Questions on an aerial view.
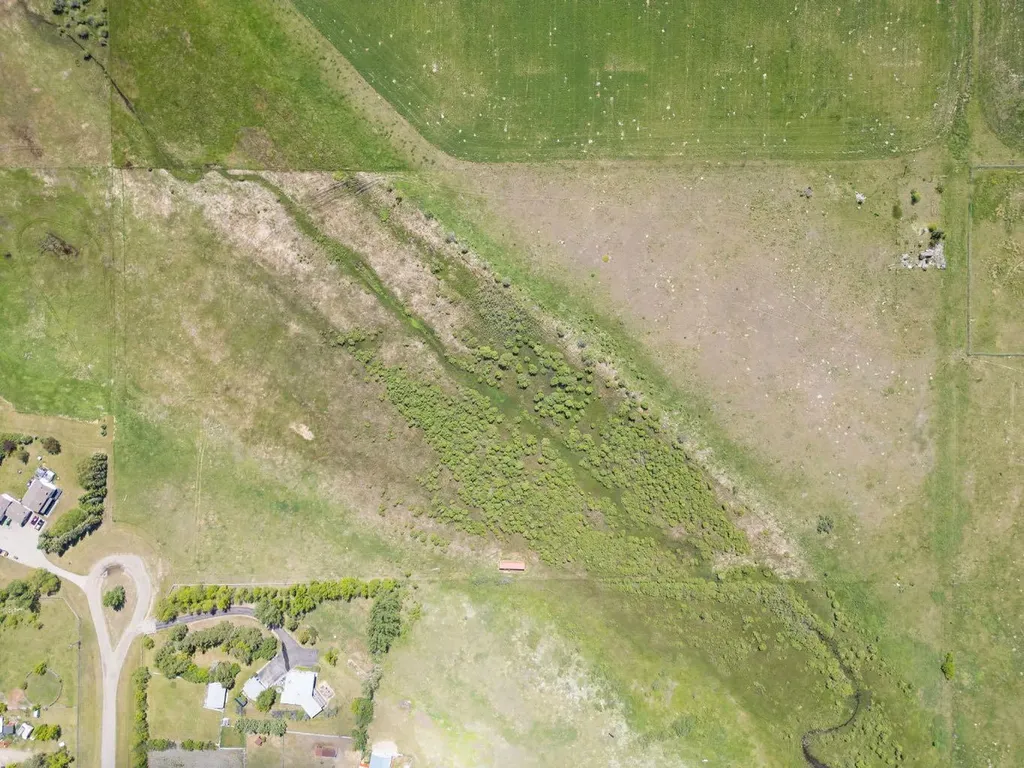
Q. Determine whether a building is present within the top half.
No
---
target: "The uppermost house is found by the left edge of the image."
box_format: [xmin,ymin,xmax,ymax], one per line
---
[0,477,69,525]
